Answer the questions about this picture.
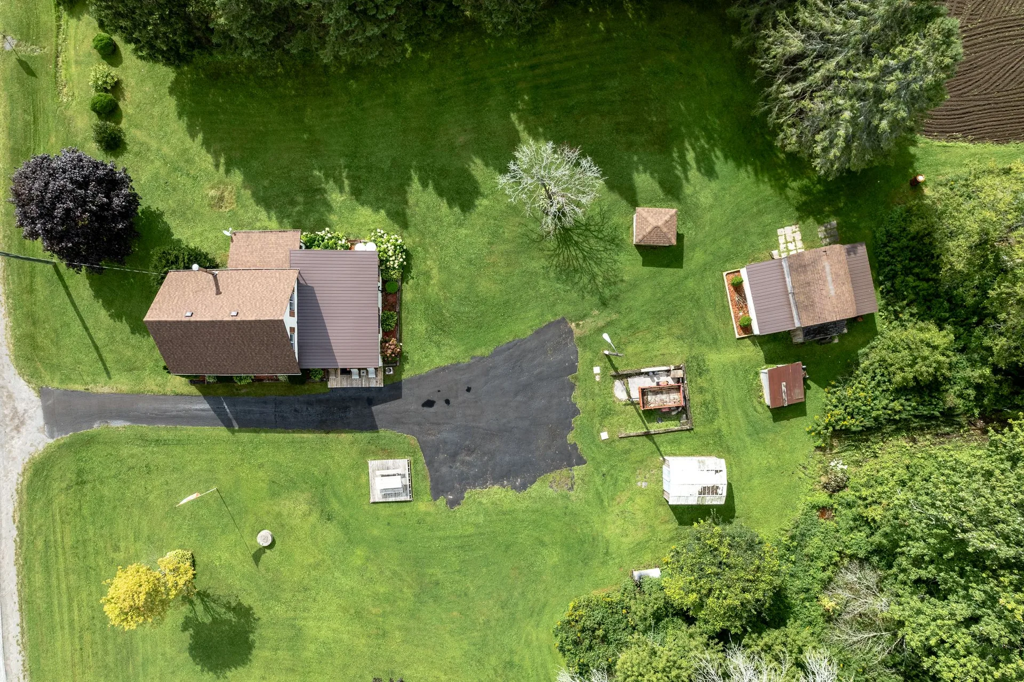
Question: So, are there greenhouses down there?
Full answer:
Yes, looking at the shot, I can spot a greenhouse.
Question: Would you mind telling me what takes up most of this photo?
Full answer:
The largest share of the image is taken up by grass.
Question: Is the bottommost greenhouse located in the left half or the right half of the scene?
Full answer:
The bottommost greenhouse is on the right side of the image.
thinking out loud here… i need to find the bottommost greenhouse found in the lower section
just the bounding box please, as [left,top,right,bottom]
[661,456,728,504]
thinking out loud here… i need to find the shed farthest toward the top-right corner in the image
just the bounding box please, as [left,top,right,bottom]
[742,242,878,342]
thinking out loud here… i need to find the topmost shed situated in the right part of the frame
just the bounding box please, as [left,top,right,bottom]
[632,207,679,247]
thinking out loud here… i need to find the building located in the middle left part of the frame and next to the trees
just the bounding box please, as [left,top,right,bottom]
[144,225,384,376]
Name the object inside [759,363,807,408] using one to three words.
shed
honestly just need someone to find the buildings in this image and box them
[144,225,384,376]
[632,207,679,247]
[742,242,878,342]
[759,363,807,408]
[661,456,728,504]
